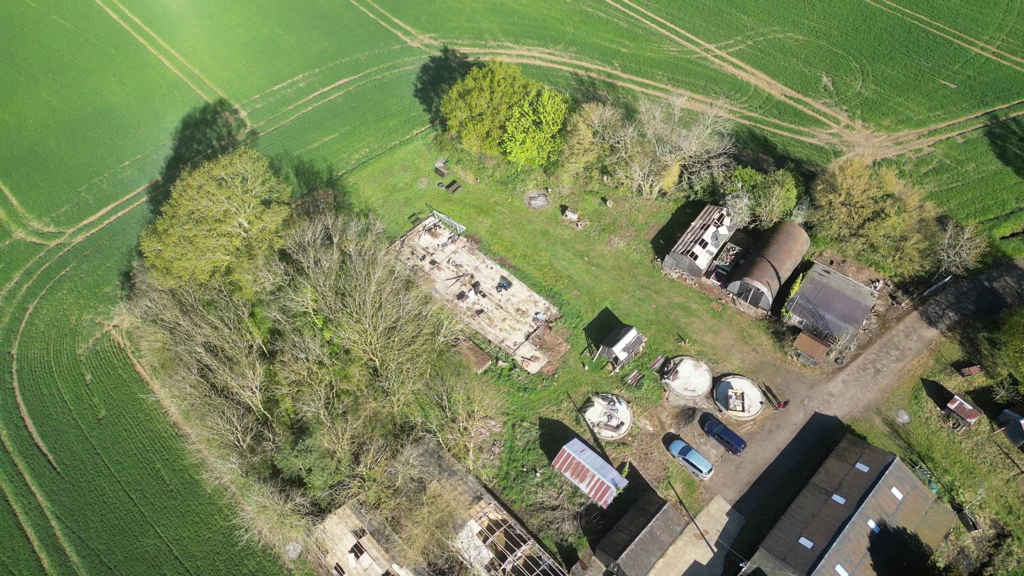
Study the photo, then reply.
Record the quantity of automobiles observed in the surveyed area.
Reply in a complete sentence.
In total, 2 automobiles can be seen.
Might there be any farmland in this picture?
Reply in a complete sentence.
Yes, there's farmland in this view.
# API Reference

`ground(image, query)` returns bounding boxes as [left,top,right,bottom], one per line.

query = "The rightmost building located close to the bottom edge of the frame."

[723,432,956,576]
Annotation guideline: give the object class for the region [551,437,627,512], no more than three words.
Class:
shed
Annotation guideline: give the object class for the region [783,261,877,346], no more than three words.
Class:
shed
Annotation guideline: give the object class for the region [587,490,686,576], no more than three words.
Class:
barn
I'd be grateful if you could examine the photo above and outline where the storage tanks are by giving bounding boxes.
[583,393,634,443]
[662,356,712,403]
[712,374,764,423]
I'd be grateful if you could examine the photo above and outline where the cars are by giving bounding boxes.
[704,418,751,461]
[668,439,717,484]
